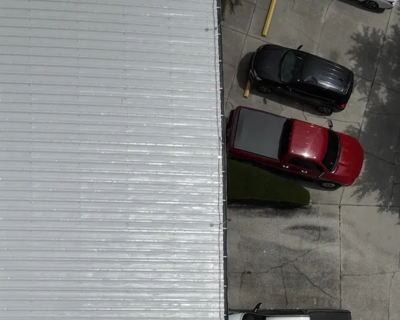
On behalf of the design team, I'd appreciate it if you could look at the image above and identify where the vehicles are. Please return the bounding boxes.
[229,105,365,184]
[246,40,360,115]
[355,0,400,10]
[229,304,351,320]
